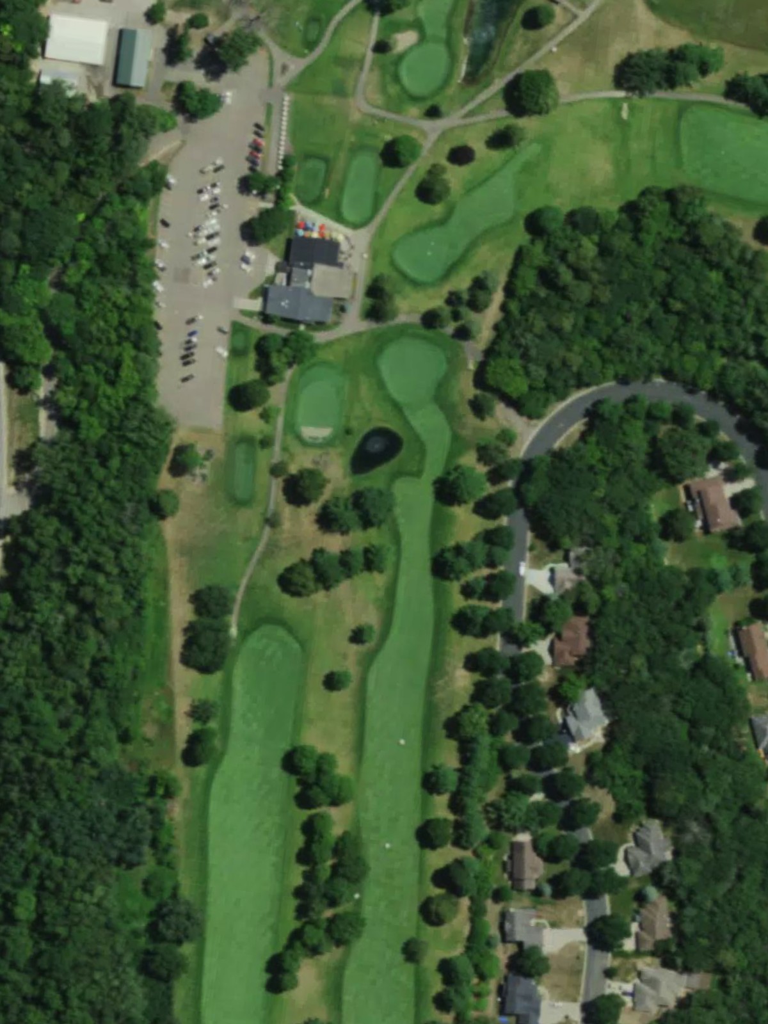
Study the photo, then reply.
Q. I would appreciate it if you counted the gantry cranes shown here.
0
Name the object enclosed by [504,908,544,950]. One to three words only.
house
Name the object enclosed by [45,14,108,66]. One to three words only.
shed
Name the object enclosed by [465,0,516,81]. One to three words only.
pond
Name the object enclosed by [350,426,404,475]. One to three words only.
pond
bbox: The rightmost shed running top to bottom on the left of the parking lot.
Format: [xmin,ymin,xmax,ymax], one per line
[116,28,151,88]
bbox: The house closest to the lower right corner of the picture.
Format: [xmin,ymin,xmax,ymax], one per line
[631,961,712,1013]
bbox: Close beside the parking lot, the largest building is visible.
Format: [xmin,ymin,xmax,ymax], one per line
[265,238,352,324]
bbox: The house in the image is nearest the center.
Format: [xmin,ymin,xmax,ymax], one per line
[554,549,580,590]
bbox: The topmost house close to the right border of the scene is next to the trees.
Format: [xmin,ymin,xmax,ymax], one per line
[688,476,742,534]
